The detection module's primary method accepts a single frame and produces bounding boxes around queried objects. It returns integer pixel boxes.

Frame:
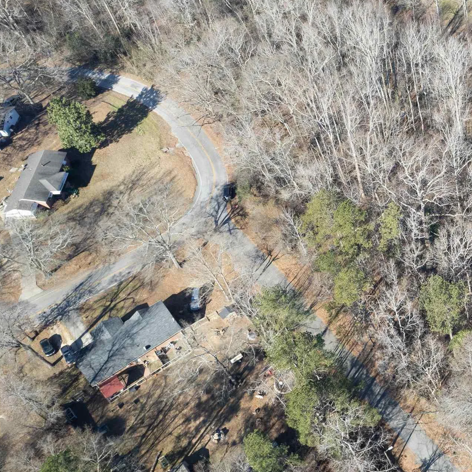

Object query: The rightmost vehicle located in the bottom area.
[188,285,202,312]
